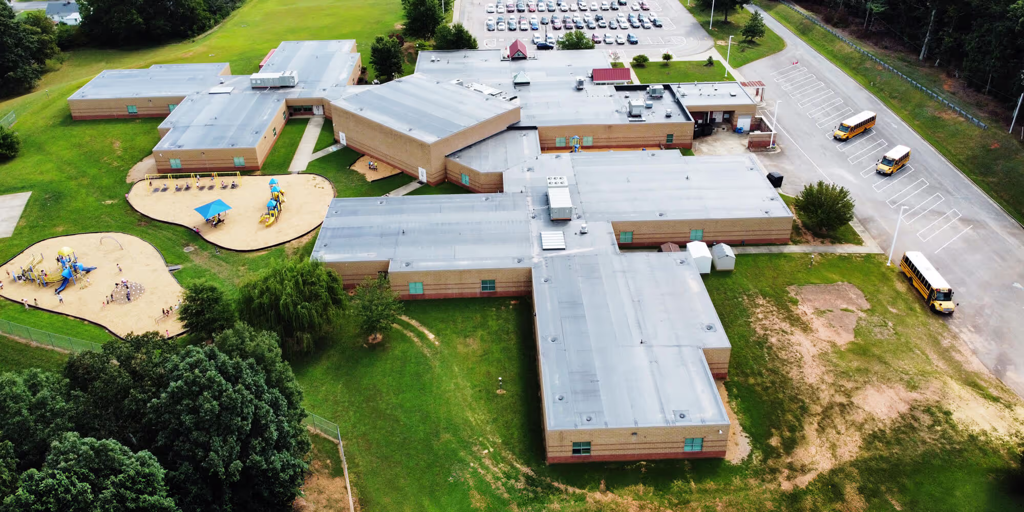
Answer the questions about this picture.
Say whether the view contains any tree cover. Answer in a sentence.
Yes, tree cover can be seen from above here.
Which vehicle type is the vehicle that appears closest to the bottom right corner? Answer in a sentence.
I'd identify the vehicle that appears closest to the bottom right corner as a bus.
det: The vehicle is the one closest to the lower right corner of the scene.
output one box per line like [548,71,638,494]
[900,251,959,312]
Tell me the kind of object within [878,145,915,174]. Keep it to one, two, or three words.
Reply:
bus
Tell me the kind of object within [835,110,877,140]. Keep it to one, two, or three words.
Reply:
bus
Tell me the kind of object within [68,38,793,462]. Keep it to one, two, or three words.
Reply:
building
